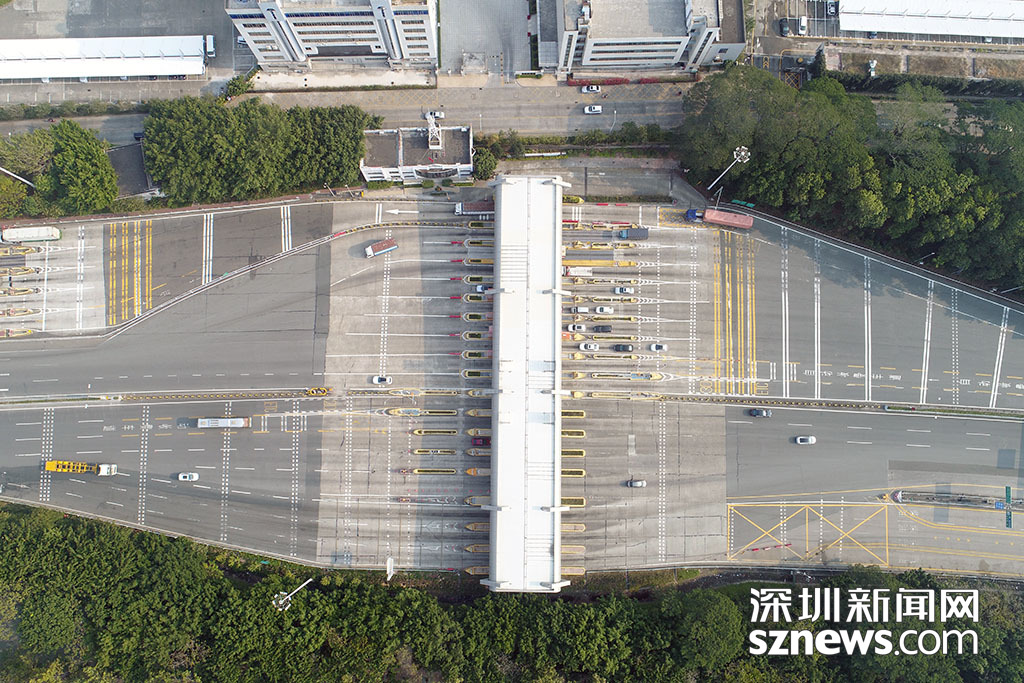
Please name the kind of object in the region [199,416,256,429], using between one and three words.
vehicle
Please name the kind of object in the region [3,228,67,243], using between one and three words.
vehicle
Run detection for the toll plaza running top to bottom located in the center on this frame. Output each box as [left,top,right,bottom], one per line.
[482,175,572,593]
